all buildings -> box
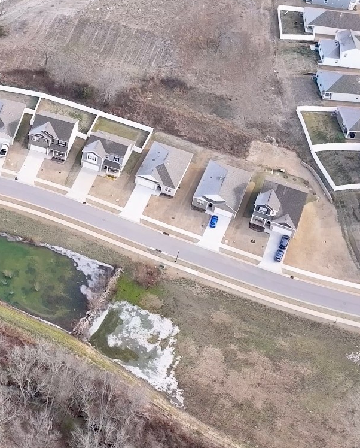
[0,99,31,146]
[318,36,360,68]
[315,69,360,102]
[29,113,79,158]
[190,158,252,219]
[299,7,360,35]
[249,176,310,238]
[81,129,136,178]
[336,107,360,139]
[135,140,194,198]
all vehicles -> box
[208,212,219,228]
[0,141,10,157]
[279,232,292,249]
[273,247,286,264]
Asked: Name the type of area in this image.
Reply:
residential area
